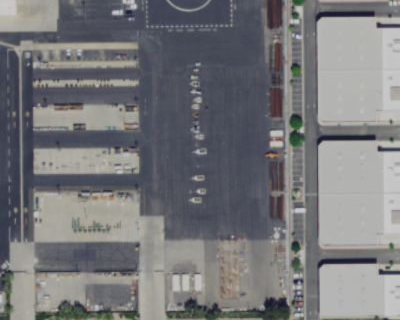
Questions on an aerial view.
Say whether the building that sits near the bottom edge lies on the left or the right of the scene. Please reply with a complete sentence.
You can find the building that sits near the bottom edge on the right side of the picture.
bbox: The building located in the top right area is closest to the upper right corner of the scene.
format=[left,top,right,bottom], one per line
[316,17,400,121]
